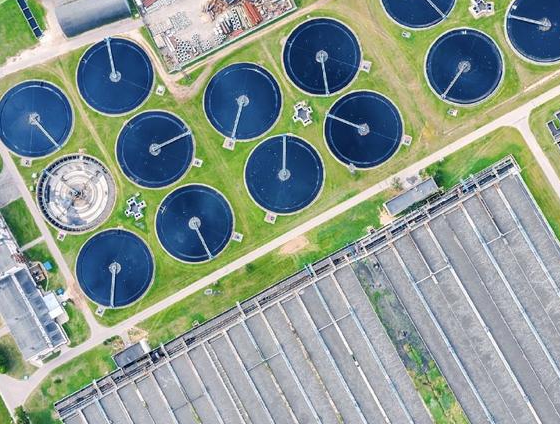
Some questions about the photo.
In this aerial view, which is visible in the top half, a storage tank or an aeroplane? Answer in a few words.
storage tank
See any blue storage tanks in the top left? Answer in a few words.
Yes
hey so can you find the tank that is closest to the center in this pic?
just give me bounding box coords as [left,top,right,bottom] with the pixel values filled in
[243,133,325,215]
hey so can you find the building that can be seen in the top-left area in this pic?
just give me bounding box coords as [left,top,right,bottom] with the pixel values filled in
[52,0,132,39]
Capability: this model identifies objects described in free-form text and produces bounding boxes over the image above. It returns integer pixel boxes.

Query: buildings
[113,342,149,367]
[52,0,132,39]
[384,178,439,215]
[0,210,72,368]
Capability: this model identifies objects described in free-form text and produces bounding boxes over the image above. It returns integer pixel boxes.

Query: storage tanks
[202,61,282,141]
[380,0,456,30]
[505,0,560,64]
[73,228,155,310]
[113,108,195,190]
[424,26,505,107]
[74,35,155,116]
[281,16,363,97]
[0,78,74,158]
[323,89,405,170]
[34,153,116,234]
[153,183,236,264]
[243,133,325,215]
